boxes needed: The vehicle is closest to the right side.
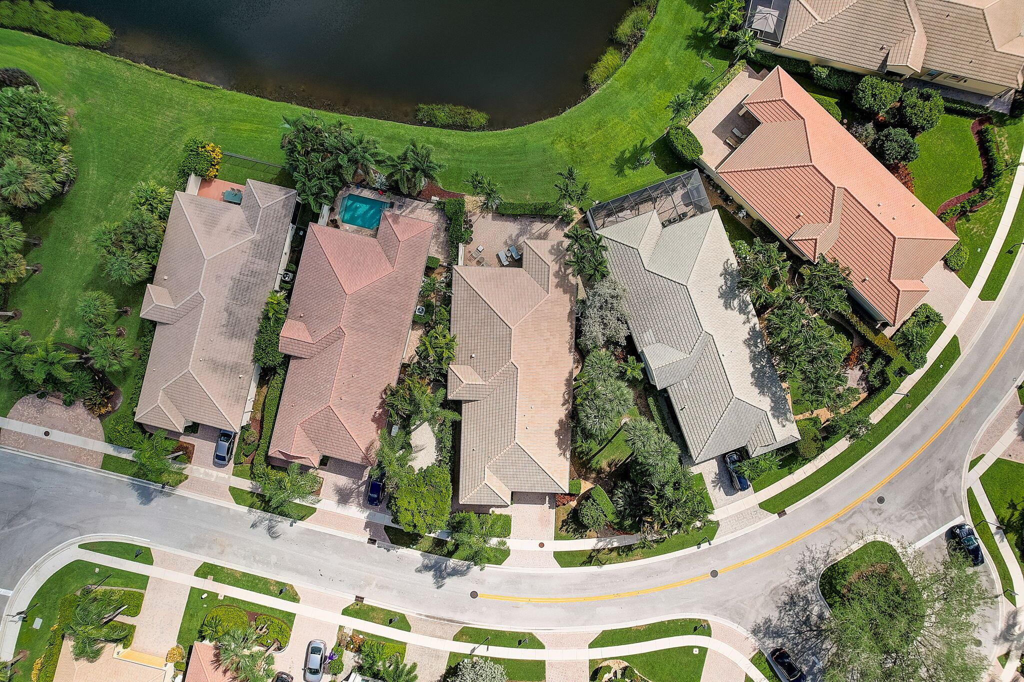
[949,519,985,568]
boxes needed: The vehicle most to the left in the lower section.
[213,429,239,468]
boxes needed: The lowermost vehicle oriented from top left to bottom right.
[772,646,809,682]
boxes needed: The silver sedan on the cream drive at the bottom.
[303,638,326,682]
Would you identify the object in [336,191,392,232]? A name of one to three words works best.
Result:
swimming pool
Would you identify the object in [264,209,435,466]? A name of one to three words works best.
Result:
house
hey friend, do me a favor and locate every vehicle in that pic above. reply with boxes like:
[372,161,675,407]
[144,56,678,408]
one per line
[303,638,326,682]
[721,449,752,494]
[348,670,385,682]
[364,467,389,506]
[949,519,985,568]
[772,646,809,682]
[213,429,239,468]
[276,671,295,682]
